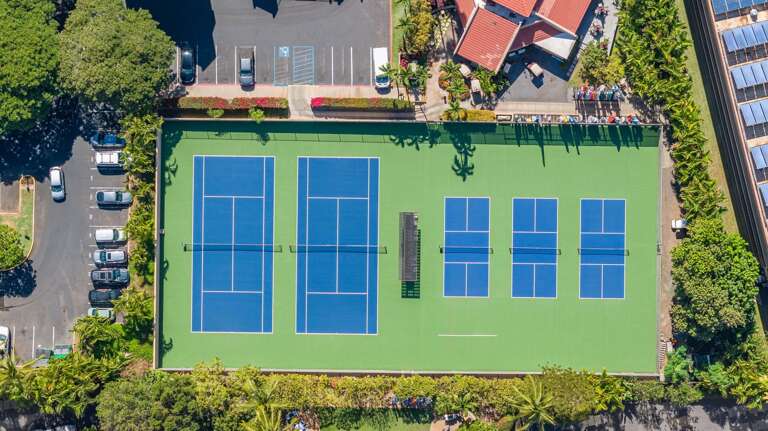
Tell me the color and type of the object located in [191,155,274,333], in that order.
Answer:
blue tennis court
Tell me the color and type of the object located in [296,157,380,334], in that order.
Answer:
blue tennis court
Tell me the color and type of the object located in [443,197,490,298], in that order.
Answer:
blue sports court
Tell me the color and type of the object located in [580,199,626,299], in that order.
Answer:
blue sports court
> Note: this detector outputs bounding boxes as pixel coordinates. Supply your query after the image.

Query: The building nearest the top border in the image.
[454,0,595,76]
